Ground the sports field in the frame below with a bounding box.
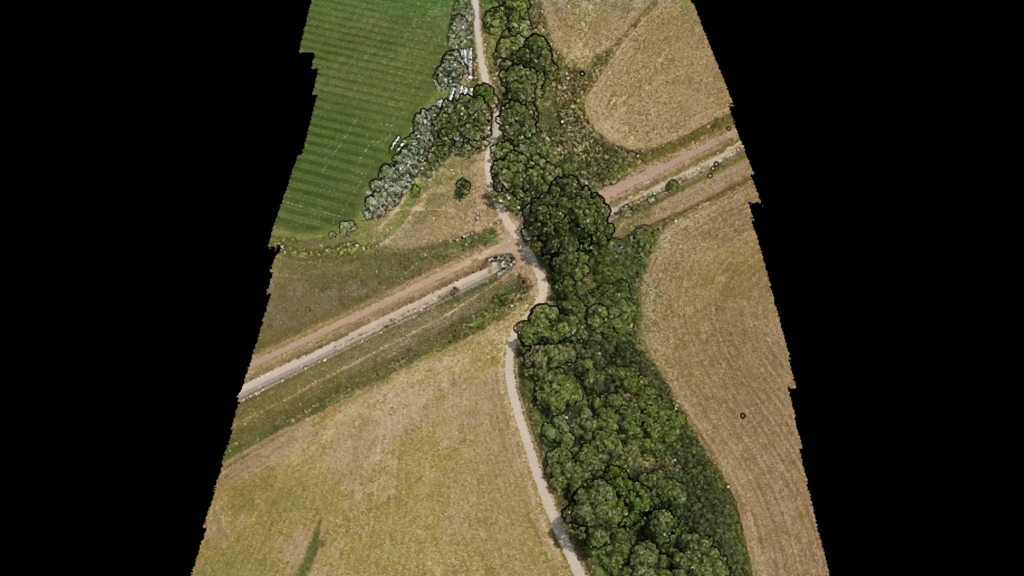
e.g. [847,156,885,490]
[272,0,452,238]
